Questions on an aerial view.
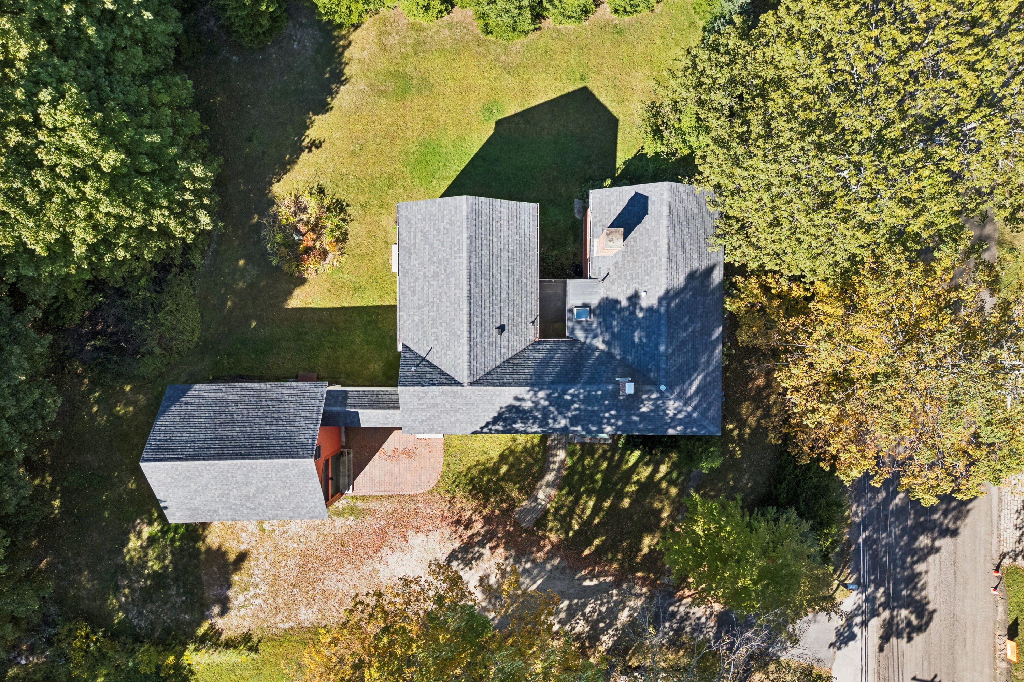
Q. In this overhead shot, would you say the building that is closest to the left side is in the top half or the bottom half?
bottom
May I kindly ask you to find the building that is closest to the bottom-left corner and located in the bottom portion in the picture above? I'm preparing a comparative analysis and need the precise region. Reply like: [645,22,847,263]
[142,381,343,524]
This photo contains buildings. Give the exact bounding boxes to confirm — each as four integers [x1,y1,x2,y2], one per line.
[142,381,343,524]
[394,182,722,436]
